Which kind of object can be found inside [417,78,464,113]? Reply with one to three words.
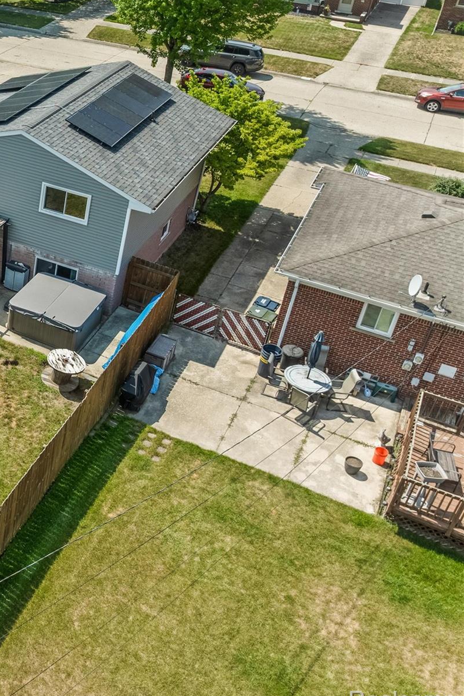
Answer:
car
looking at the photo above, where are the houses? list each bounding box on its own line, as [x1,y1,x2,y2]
[262,0,381,23]
[436,0,464,28]
[269,167,464,395]
[0,59,241,314]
